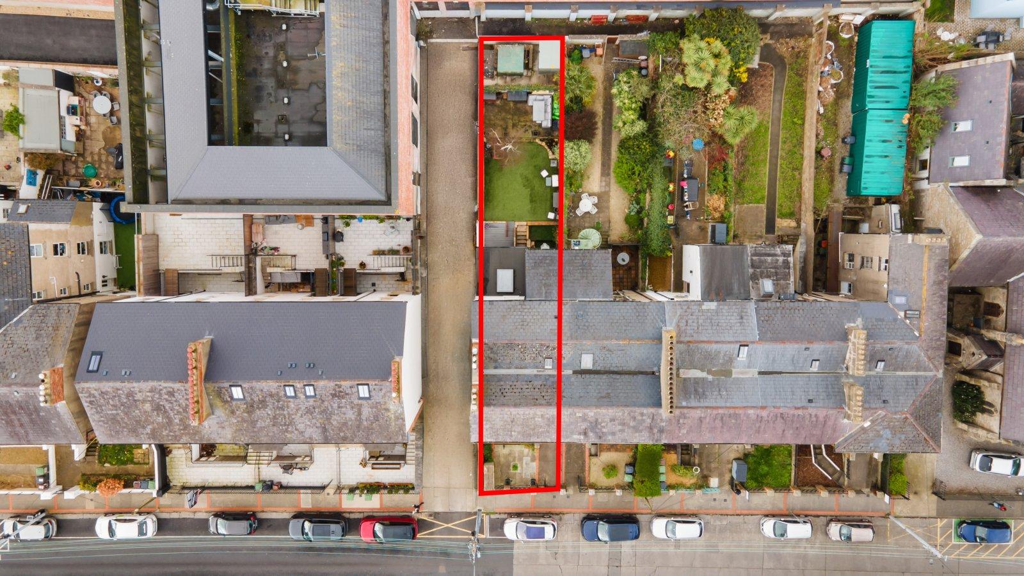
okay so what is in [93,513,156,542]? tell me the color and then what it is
white car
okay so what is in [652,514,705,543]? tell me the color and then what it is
white car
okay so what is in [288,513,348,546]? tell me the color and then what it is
gray car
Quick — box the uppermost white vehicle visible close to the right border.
[969,446,1024,479]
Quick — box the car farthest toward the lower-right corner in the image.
[955,516,1013,547]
